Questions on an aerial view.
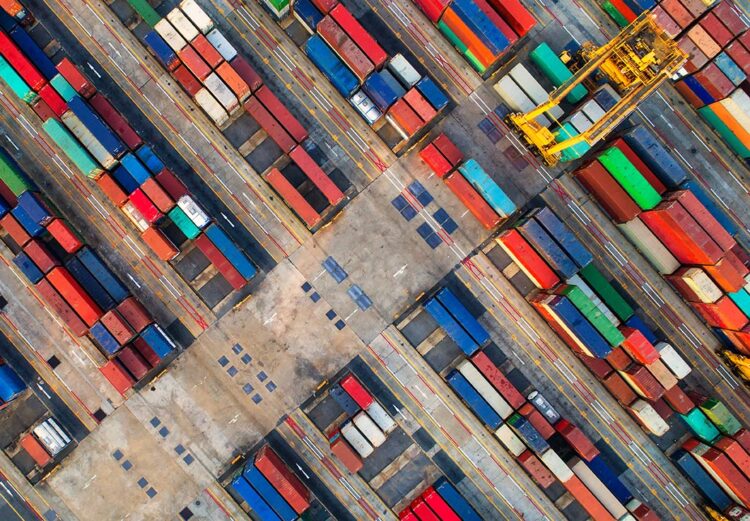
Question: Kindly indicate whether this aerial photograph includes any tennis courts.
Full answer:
No, the scene contains no tennis court.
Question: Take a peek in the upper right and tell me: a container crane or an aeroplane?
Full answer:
Looking in the upper right, you will find a container crane.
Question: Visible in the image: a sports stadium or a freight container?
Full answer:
It is a freight container that can be seen here.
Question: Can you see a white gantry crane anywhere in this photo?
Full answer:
No, there's no white gantry crane here.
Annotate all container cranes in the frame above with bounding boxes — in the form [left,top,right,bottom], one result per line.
[715,346,750,390]
[702,502,724,521]
[505,4,694,165]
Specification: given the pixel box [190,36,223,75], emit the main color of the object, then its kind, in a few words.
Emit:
red shipping container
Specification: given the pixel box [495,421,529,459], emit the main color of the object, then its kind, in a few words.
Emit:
white shipping container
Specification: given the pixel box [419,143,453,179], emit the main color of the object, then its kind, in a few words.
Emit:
red shipping container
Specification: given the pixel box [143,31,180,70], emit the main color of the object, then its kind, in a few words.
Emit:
blue shipping container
